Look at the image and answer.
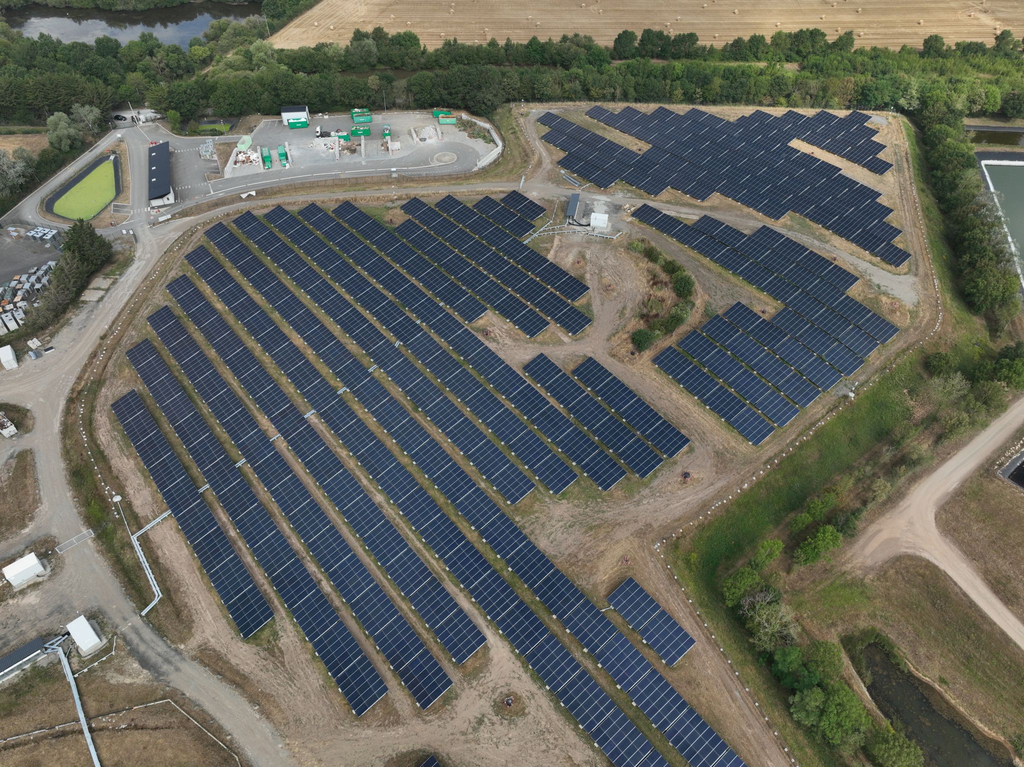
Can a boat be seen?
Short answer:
No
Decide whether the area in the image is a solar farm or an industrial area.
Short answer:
solar farm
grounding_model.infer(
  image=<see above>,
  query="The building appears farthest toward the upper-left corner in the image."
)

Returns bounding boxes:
[142,138,178,207]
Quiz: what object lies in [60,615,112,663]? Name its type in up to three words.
building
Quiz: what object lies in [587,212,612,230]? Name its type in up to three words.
building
